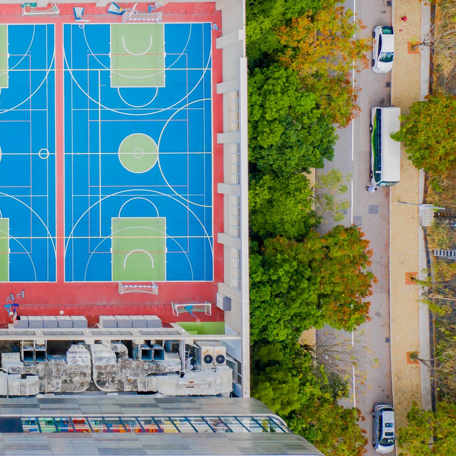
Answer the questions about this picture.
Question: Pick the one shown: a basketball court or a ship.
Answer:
basketball court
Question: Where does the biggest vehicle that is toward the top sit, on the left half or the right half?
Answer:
right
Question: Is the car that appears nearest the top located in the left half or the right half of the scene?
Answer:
right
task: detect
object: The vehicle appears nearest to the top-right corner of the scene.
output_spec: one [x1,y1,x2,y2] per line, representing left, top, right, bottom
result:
[372,26,399,72]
